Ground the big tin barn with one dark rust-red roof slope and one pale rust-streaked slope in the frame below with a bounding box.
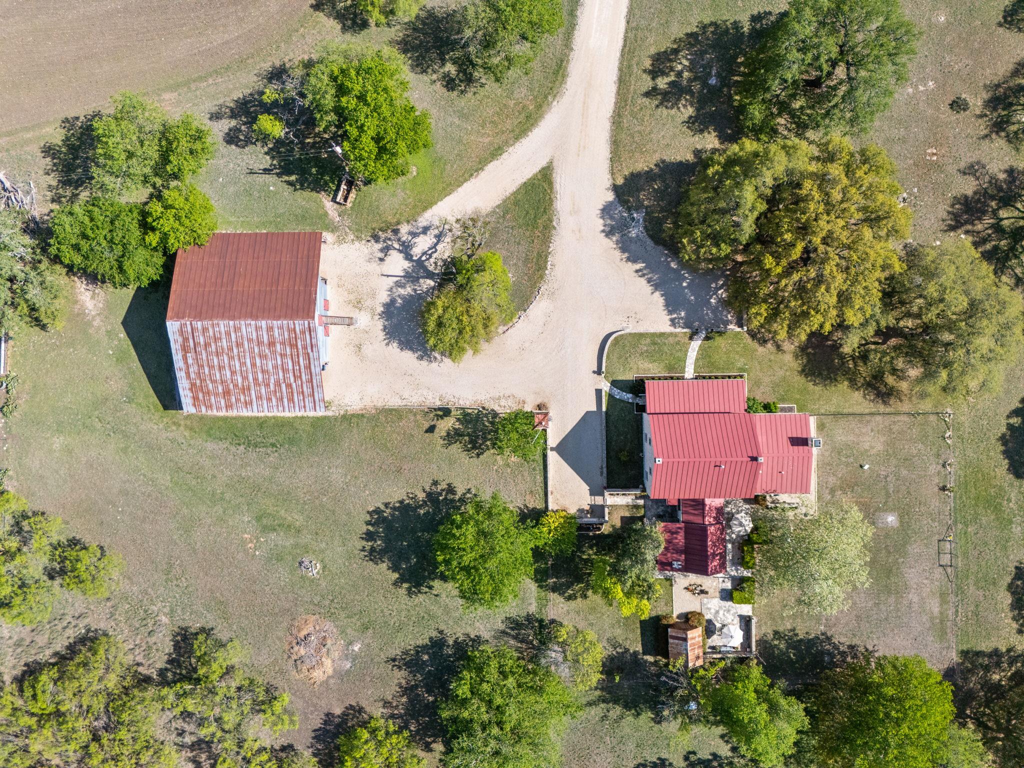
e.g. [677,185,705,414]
[164,231,330,412]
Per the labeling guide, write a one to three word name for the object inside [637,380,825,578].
house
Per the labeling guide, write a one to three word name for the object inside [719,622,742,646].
umbrella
